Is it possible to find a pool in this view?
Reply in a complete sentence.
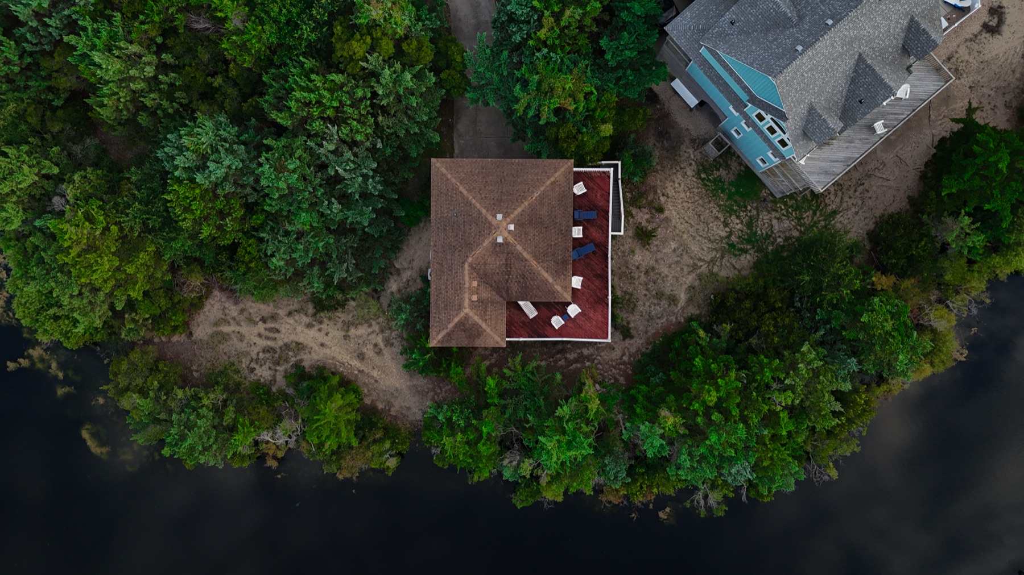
No, the picture doesn't show any pool.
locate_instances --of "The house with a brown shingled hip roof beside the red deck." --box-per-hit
[430,158,573,347]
